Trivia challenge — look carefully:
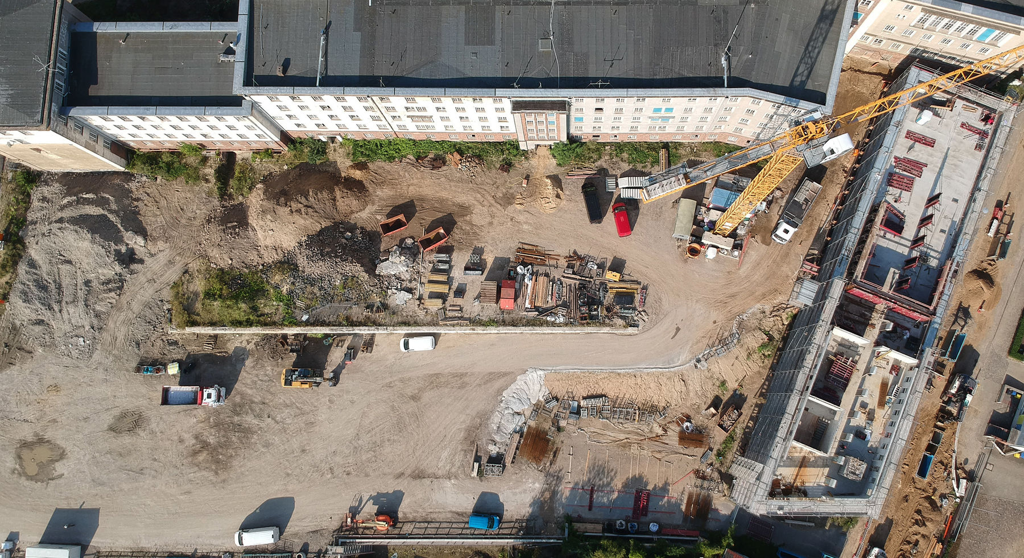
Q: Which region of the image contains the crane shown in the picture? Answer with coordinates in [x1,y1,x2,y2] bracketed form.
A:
[648,44,1024,247]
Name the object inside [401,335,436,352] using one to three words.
vehicle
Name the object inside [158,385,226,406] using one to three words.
truck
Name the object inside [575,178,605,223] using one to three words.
truck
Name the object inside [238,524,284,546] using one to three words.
vehicle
